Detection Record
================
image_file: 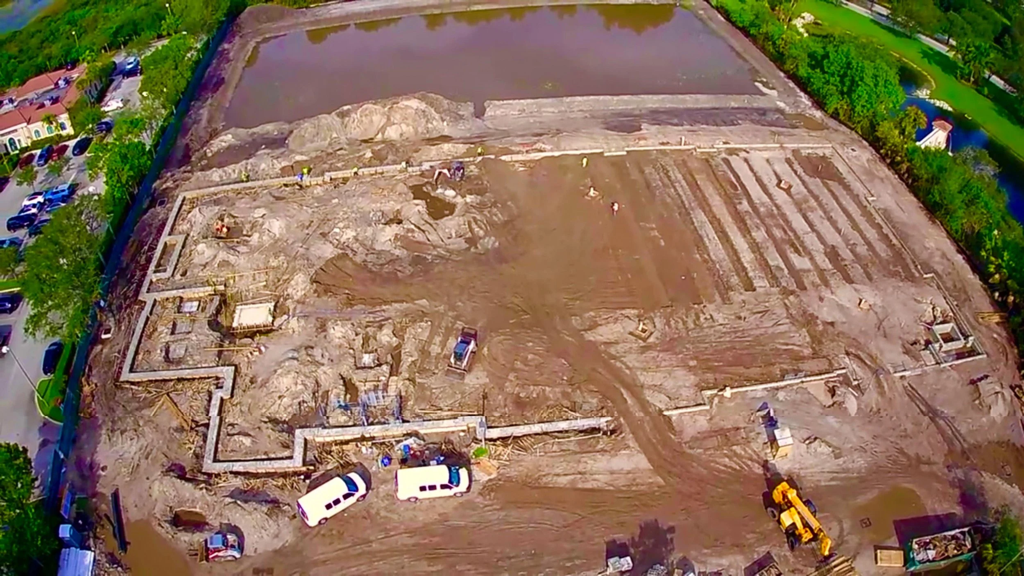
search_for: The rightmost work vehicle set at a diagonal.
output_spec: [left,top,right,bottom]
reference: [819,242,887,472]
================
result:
[763,485,838,574]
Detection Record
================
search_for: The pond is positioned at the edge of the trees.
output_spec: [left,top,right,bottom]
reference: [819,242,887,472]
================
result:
[221,4,770,130]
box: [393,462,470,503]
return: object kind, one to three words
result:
van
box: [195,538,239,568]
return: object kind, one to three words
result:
work vehicle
